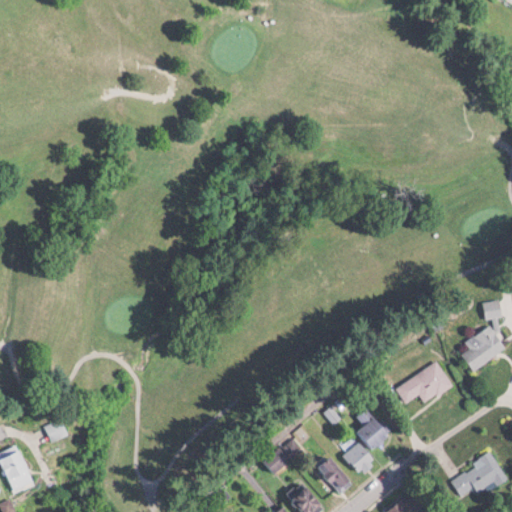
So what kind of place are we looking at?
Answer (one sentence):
It's a golf course.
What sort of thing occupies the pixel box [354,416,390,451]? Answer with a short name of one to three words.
house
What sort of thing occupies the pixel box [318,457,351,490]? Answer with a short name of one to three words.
house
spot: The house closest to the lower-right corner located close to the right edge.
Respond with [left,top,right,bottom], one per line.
[452,454,504,499]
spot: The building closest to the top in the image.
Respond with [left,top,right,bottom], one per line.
[484,302,502,331]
